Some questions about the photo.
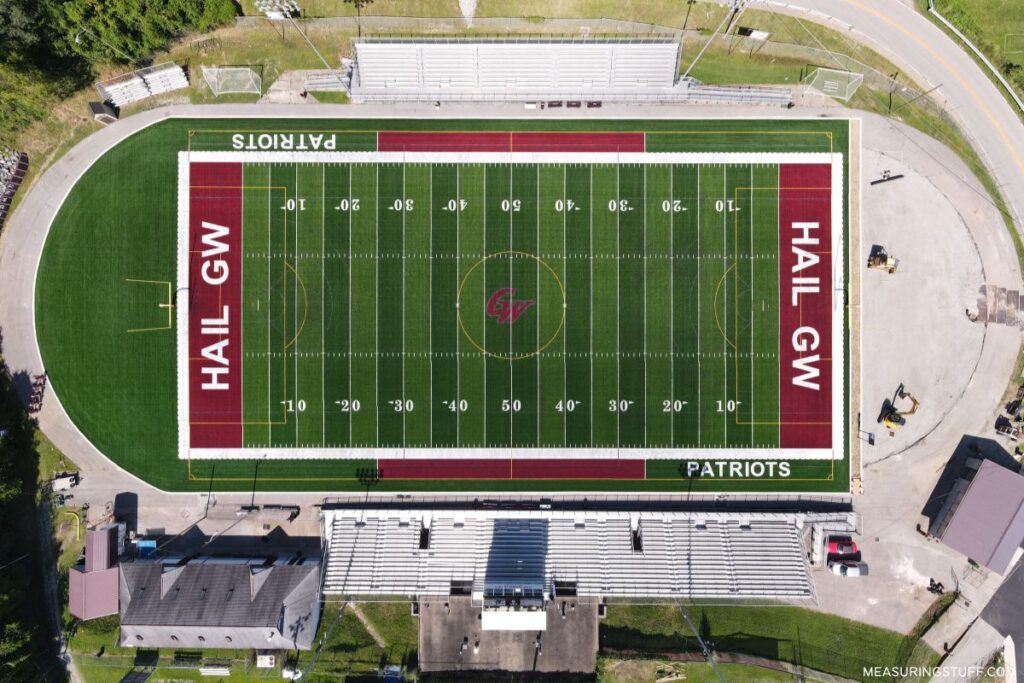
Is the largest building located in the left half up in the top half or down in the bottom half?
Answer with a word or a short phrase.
bottom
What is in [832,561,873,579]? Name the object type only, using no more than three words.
vehicle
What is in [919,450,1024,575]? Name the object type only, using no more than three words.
building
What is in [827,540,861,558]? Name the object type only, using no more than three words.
car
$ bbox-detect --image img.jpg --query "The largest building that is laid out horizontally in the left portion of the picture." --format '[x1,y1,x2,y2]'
[118,553,322,649]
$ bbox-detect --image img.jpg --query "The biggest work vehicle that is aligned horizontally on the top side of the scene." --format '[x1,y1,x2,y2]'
[865,255,909,272]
